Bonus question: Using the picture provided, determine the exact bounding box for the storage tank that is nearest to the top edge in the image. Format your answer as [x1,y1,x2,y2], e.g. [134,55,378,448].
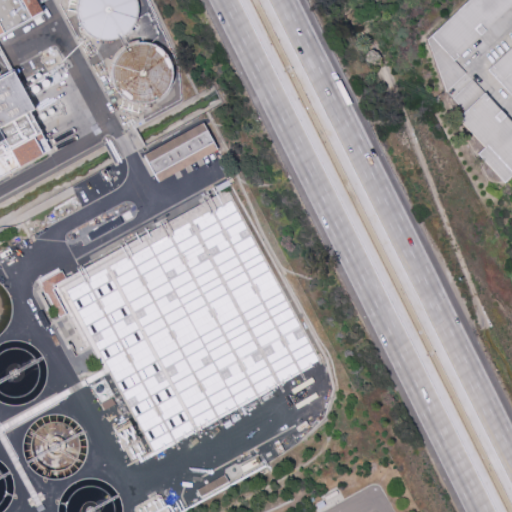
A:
[78,0,140,40]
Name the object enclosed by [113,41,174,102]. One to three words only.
storage tank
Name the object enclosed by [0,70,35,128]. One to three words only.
building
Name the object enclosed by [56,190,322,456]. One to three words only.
building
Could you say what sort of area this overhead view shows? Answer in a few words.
industrial area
